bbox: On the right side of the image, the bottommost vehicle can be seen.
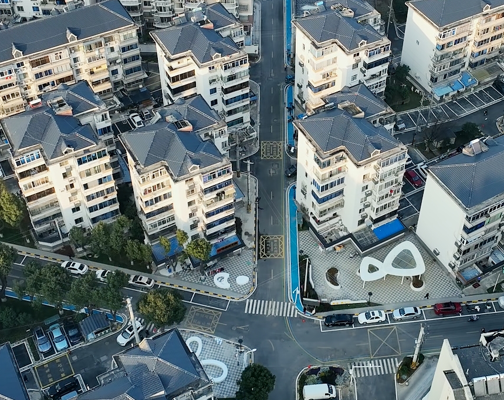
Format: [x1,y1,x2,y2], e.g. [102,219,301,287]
[303,381,338,399]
